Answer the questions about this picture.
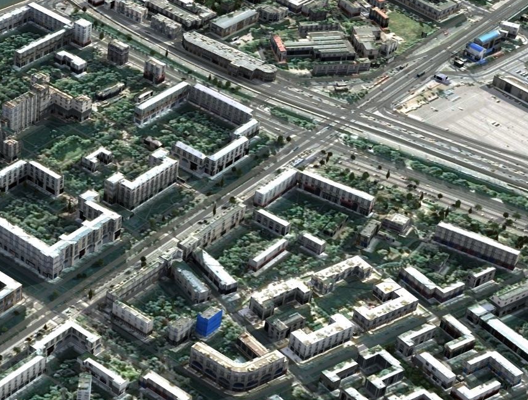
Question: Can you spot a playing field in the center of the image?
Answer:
No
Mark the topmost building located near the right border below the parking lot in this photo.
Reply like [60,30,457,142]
[433,218,520,271]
